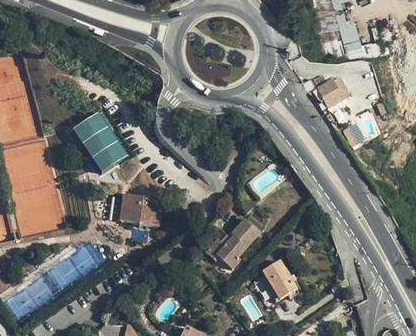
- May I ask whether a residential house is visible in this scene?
Yes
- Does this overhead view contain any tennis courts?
Yes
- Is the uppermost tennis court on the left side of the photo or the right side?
left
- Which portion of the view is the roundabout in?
top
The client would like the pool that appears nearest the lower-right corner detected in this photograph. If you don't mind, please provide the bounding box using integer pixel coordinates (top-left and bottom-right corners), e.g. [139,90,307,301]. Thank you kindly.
[238,295,262,316]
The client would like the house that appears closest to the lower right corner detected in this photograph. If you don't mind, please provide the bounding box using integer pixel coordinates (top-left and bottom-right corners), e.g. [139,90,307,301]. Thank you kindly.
[263,258,300,301]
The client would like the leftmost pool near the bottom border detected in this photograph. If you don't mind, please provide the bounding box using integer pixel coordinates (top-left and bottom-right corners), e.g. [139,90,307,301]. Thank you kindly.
[156,298,178,322]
